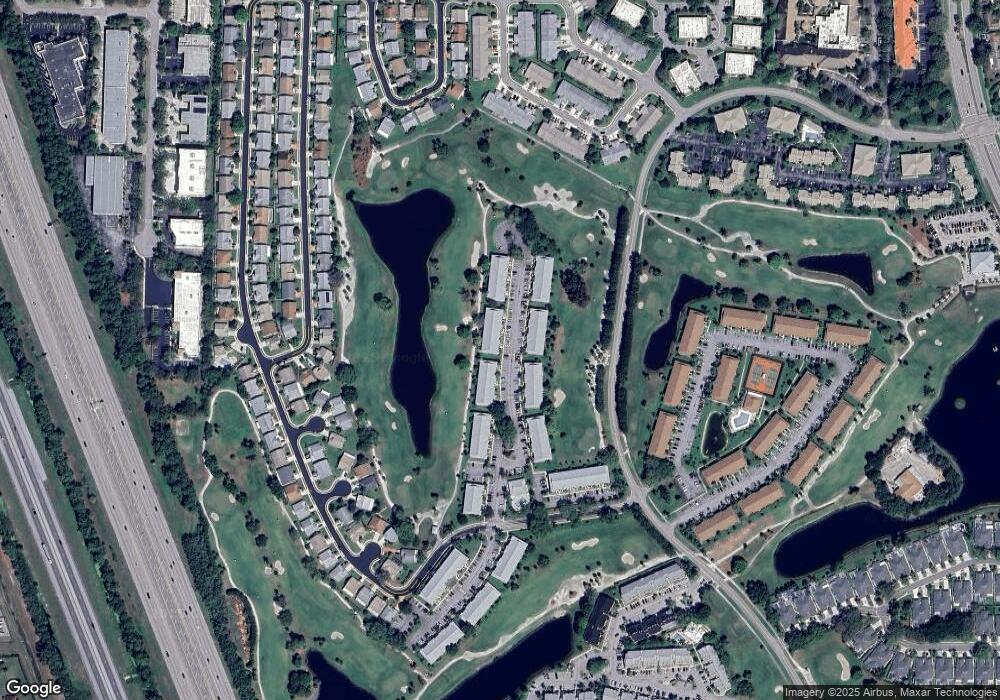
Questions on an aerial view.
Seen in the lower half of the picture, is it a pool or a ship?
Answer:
pool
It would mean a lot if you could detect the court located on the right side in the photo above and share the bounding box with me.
[745,355,782,396]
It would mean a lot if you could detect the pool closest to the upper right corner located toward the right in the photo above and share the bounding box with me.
[802,119,825,143]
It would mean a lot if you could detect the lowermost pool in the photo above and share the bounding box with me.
[671,622,710,644]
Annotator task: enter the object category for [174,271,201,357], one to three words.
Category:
building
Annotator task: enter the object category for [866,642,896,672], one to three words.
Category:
house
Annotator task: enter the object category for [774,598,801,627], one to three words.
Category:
house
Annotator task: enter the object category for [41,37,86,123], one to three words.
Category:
building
